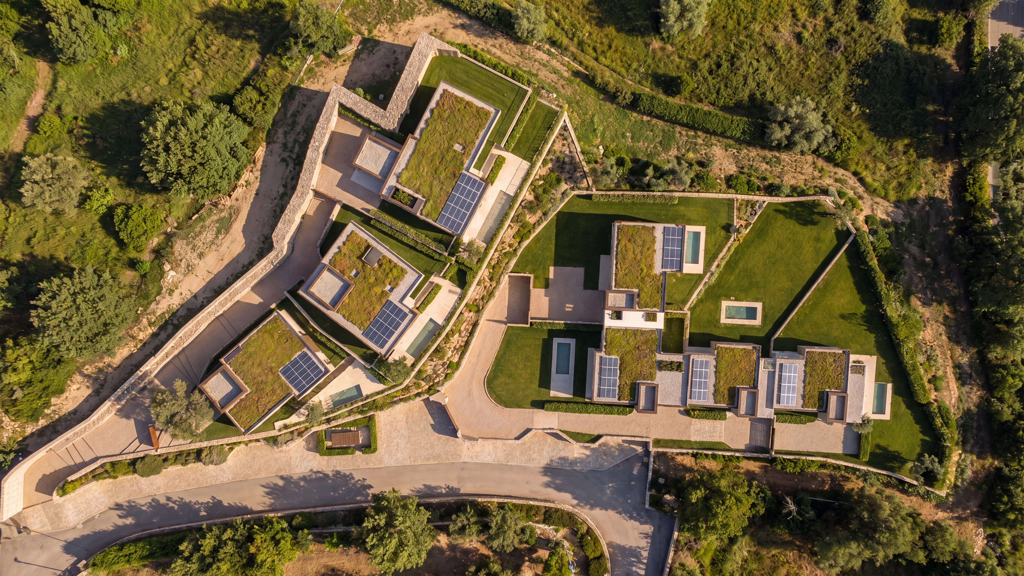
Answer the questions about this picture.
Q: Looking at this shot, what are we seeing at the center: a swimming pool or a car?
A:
swimming pool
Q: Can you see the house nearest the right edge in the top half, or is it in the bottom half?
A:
bottom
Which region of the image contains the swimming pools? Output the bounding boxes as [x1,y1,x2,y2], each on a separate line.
[403,315,444,360]
[554,341,572,376]
[871,381,889,416]
[474,188,515,246]
[327,382,365,408]
[723,304,759,321]
[683,229,702,265]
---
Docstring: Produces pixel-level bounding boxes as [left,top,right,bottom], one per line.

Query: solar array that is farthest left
[280,351,323,393]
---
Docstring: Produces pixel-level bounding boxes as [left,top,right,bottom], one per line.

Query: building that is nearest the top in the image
[353,80,501,240]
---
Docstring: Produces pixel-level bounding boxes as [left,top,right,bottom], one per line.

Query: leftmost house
[199,309,338,434]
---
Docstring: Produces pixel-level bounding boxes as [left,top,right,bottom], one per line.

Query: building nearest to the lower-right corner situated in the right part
[765,344,867,423]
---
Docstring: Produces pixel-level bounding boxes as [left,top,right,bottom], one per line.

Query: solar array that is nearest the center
[437,172,484,233]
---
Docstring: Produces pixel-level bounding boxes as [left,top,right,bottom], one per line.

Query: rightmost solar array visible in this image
[780,364,798,405]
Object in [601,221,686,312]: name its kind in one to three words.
house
